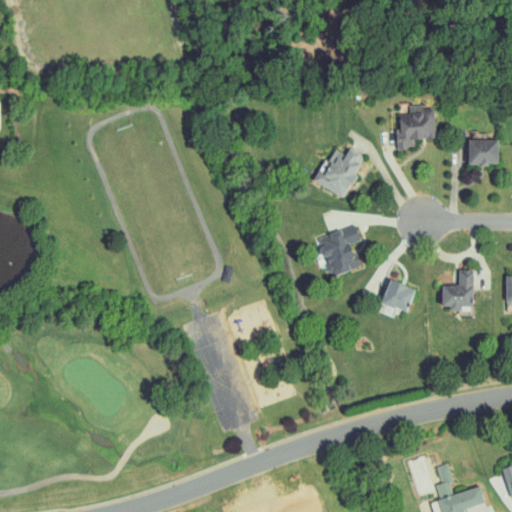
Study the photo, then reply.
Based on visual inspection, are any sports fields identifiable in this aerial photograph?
Yes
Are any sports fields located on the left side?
Yes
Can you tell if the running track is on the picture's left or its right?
left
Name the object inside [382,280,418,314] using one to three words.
house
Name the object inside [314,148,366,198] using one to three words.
house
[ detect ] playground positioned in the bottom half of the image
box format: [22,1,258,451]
[228,300,297,406]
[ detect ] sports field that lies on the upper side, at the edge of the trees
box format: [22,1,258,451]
[91,110,217,296]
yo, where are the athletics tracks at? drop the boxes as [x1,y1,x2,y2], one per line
[86,106,222,317]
